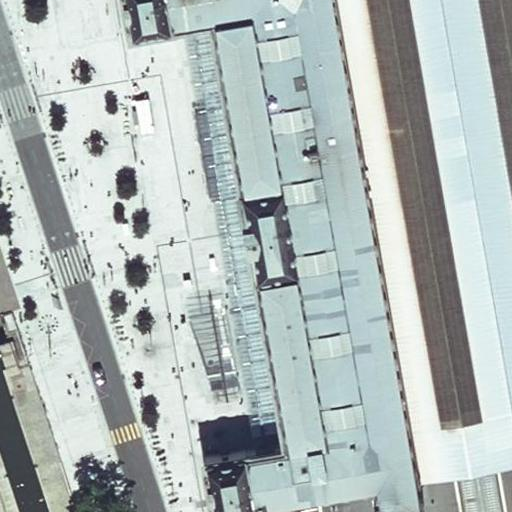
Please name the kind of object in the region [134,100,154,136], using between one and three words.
vehicle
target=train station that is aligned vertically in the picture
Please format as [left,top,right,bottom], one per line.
[122,0,427,512]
